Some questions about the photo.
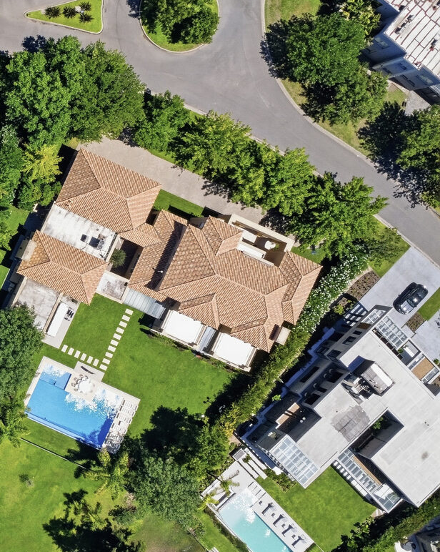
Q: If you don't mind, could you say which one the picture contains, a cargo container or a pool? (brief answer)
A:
pool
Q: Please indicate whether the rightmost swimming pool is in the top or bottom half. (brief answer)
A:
bottom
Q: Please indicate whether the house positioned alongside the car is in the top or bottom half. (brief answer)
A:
bottom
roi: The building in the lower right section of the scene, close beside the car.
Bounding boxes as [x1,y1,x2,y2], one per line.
[239,302,440,514]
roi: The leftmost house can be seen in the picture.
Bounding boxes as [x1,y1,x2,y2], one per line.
[7,149,324,373]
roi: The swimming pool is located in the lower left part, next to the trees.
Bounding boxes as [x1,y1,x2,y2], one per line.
[20,356,141,451]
